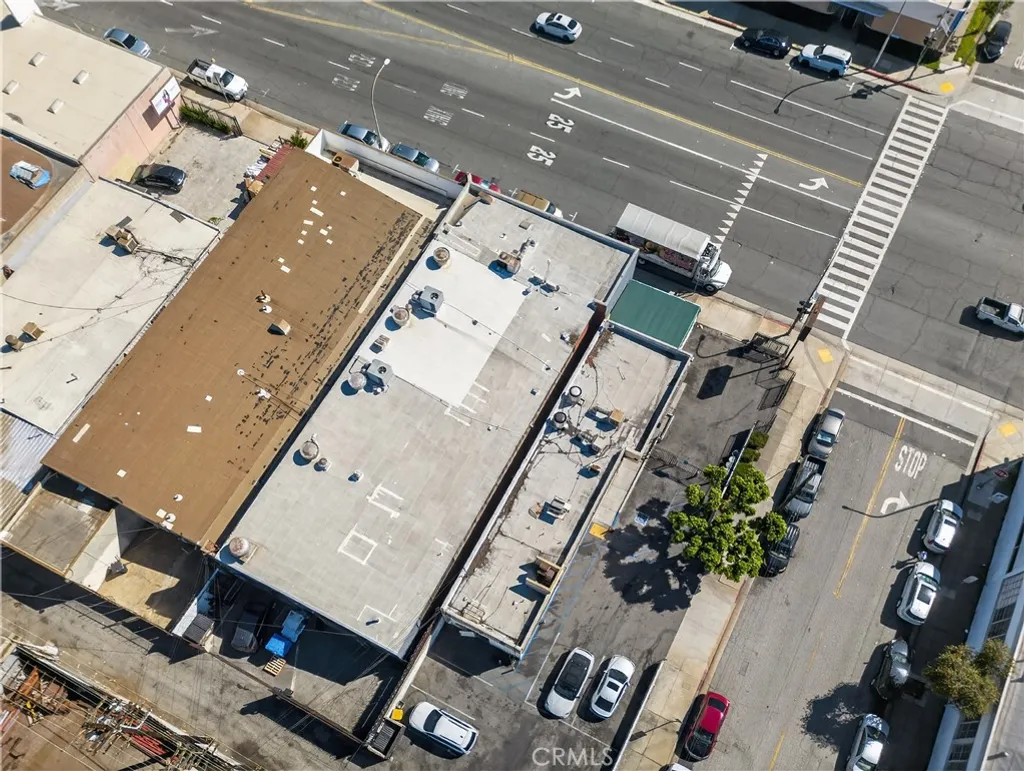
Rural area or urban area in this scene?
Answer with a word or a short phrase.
urban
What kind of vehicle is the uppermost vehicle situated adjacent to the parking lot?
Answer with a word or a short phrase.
truck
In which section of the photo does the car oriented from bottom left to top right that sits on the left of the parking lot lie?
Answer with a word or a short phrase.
bottom left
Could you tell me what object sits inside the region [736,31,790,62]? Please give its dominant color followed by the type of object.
black car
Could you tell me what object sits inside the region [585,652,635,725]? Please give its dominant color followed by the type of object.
white car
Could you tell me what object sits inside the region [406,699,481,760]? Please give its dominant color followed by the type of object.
white car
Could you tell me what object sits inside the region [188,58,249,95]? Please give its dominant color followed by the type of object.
white truck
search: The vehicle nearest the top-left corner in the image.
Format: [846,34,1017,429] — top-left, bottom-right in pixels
[106,26,155,56]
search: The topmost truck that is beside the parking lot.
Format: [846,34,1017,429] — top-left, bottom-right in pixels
[614,200,743,289]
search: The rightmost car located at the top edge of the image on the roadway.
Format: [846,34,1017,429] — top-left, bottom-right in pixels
[983,19,1019,66]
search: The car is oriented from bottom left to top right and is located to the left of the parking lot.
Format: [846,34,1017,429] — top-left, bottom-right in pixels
[217,592,278,667]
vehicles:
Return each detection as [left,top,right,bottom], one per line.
[894,559,941,629]
[868,635,915,705]
[736,31,790,62]
[217,592,278,667]
[783,451,832,524]
[533,14,583,45]
[135,162,188,197]
[585,652,635,725]
[106,26,155,56]
[406,699,481,760]
[683,691,732,764]
[841,702,889,771]
[983,19,1019,66]
[545,646,598,722]
[920,496,964,558]
[338,120,390,154]
[614,200,743,289]
[961,290,1024,339]
[809,407,850,461]
[188,58,249,95]
[387,140,441,175]
[757,516,803,581]
[450,167,504,191]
